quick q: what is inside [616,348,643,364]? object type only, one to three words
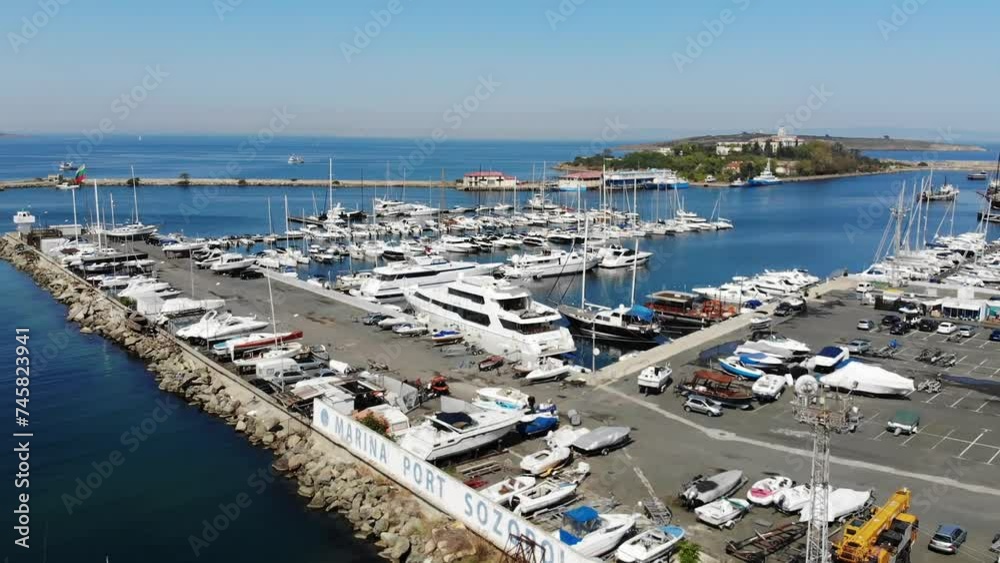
boat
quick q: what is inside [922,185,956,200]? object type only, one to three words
boat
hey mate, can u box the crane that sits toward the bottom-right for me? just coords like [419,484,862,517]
[832,483,914,563]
